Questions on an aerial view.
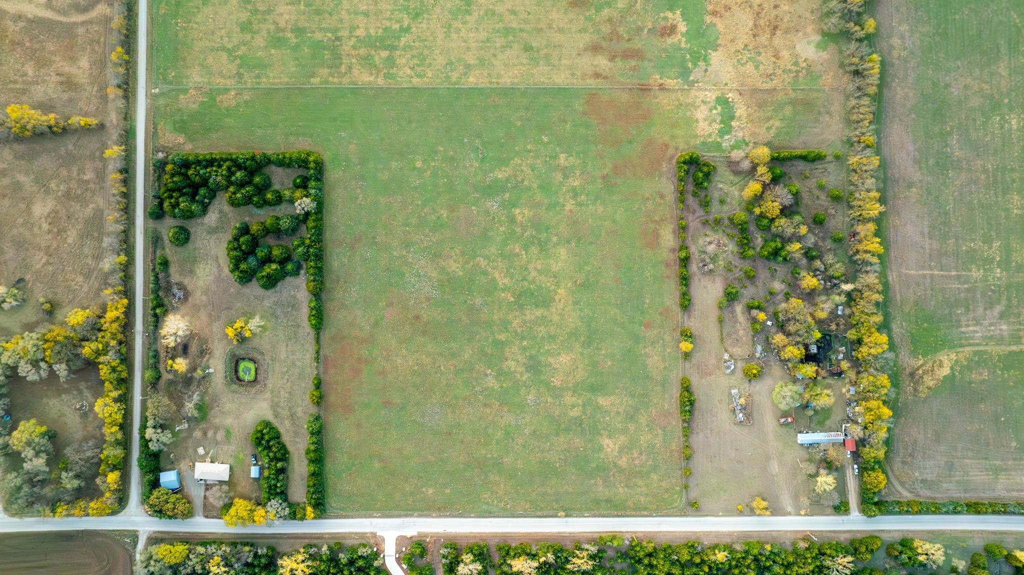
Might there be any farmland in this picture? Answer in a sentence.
Yes, some farmland is visible.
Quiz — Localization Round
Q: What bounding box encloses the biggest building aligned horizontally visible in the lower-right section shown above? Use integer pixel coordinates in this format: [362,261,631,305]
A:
[796,431,843,447]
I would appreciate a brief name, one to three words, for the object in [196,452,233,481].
house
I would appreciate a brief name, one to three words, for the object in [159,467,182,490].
building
